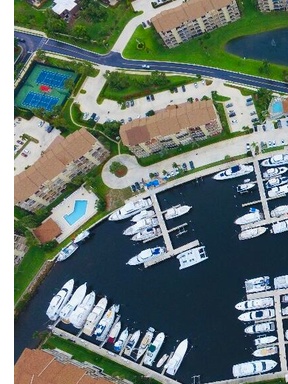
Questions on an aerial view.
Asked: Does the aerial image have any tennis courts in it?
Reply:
Yes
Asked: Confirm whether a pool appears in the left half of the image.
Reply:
Yes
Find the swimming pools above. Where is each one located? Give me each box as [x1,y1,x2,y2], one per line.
[41,182,98,241]
[267,97,288,119]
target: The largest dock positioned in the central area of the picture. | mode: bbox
[142,193,199,269]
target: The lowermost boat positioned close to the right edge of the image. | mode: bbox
[231,359,276,376]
